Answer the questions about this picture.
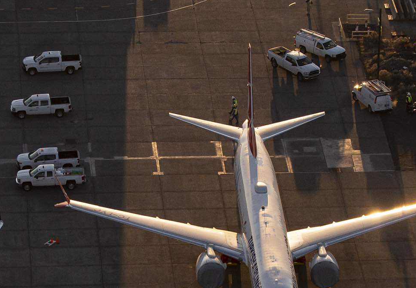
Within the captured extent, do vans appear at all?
Yes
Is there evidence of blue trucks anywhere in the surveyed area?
No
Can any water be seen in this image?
No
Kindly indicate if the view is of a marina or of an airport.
airport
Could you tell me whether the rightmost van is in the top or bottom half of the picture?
top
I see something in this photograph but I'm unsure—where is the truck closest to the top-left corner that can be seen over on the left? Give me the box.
[21,51,83,75]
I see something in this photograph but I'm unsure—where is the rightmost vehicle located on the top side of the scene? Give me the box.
[349,80,395,114]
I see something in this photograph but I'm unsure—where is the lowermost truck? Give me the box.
[16,161,86,188]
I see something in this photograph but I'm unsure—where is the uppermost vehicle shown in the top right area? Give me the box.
[290,25,352,63]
